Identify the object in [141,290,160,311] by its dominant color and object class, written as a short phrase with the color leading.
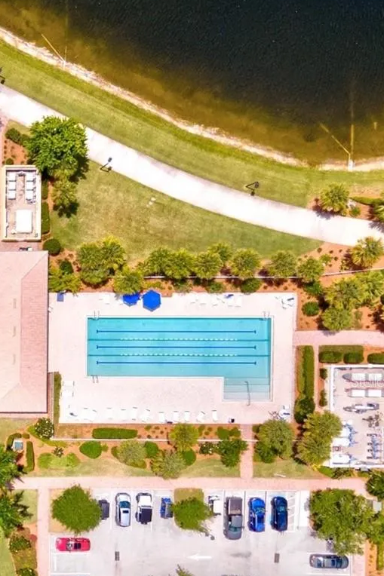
blue umbrella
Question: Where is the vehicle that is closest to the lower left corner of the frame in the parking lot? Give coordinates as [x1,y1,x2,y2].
[54,536,90,552]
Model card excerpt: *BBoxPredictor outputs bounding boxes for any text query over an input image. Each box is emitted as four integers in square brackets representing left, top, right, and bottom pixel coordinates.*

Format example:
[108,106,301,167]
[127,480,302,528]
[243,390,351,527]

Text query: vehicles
[307,552,347,569]
[157,496,172,517]
[223,496,244,538]
[54,536,90,552]
[269,496,289,531]
[206,494,221,515]
[246,497,265,531]
[114,491,133,527]
[95,497,110,518]
[134,492,152,524]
